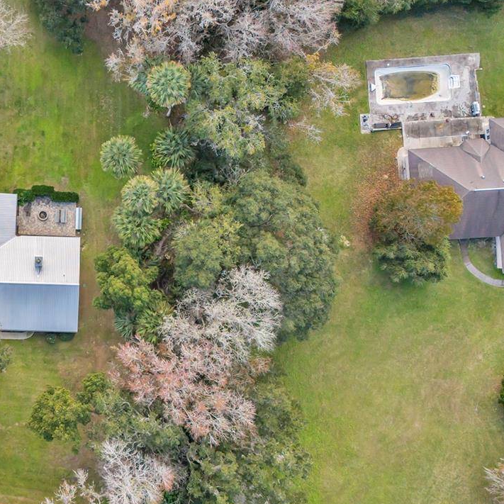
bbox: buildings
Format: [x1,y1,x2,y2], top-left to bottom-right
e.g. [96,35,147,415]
[0,194,80,332]
[402,117,504,275]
